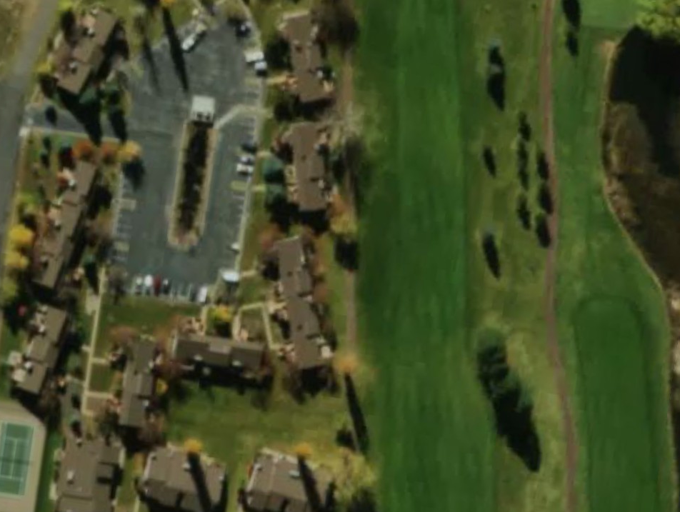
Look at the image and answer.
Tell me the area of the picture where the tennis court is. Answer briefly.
bottom left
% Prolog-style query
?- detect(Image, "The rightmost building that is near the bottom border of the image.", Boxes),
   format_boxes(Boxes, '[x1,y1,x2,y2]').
[243,441,338,512]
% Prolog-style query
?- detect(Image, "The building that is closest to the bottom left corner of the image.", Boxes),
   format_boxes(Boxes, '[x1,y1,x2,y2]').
[46,436,119,512]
